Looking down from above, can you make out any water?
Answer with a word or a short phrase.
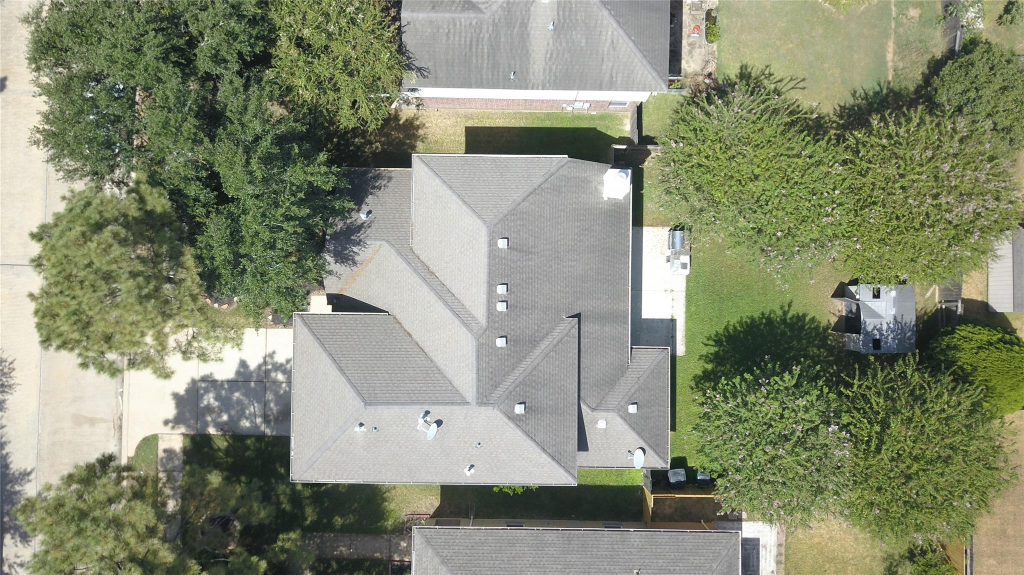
No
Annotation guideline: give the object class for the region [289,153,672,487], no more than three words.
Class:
house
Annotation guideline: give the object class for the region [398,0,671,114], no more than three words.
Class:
house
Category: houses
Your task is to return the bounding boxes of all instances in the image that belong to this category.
[289,153,672,487]
[410,512,744,575]
[398,0,671,114]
